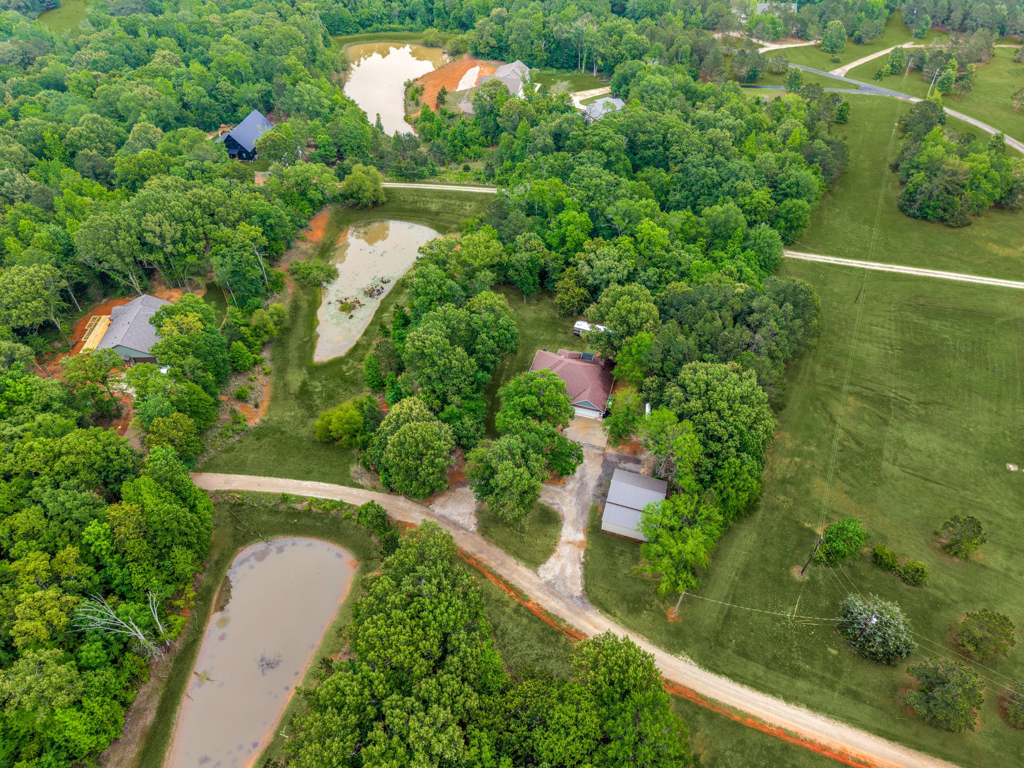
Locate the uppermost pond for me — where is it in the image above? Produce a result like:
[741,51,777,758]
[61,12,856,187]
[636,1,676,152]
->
[345,42,450,145]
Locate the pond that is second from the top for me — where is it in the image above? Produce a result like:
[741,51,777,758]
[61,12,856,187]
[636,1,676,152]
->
[313,220,442,363]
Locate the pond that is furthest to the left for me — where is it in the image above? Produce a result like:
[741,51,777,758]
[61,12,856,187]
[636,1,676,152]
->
[162,535,358,768]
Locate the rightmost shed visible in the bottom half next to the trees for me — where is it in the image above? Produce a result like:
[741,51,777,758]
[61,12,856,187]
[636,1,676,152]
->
[600,468,666,541]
